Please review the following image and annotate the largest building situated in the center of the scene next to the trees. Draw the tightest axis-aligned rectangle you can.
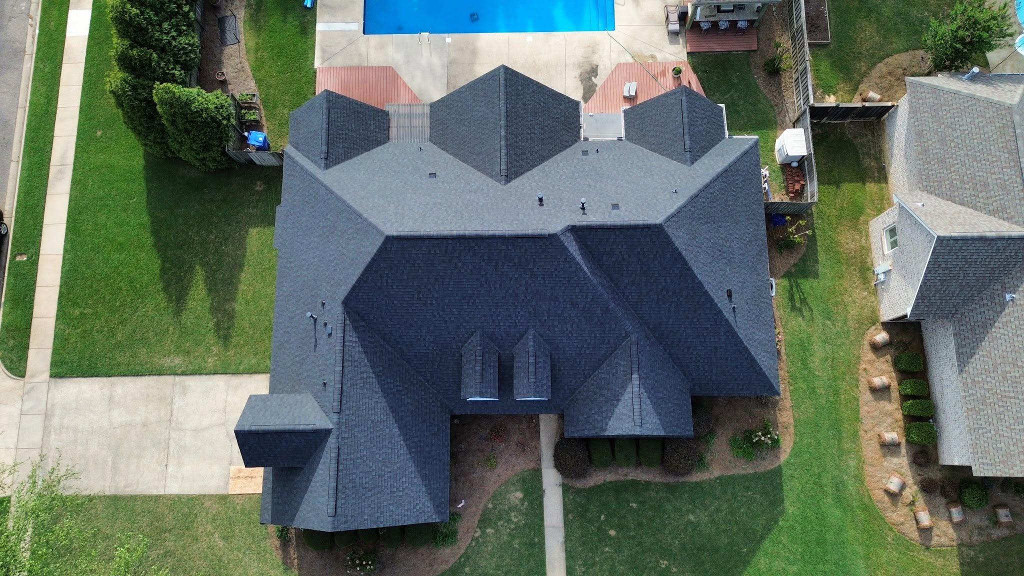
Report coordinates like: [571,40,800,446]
[232,65,782,532]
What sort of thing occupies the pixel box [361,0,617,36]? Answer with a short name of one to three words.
swimming pool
